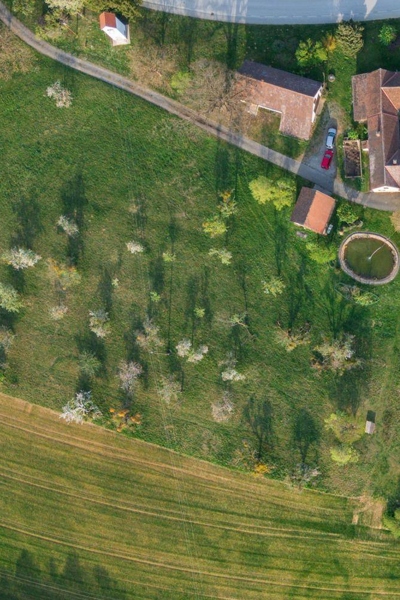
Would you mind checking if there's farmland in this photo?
Yes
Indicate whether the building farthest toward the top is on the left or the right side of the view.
left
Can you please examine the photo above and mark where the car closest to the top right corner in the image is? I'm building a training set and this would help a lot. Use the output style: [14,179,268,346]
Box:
[325,127,337,150]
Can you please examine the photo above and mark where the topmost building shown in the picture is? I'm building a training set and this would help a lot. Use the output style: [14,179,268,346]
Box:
[100,12,126,44]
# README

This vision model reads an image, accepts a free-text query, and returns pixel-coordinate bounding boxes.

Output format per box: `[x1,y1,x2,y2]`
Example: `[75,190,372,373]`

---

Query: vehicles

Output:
[320,147,334,170]
[325,127,337,150]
